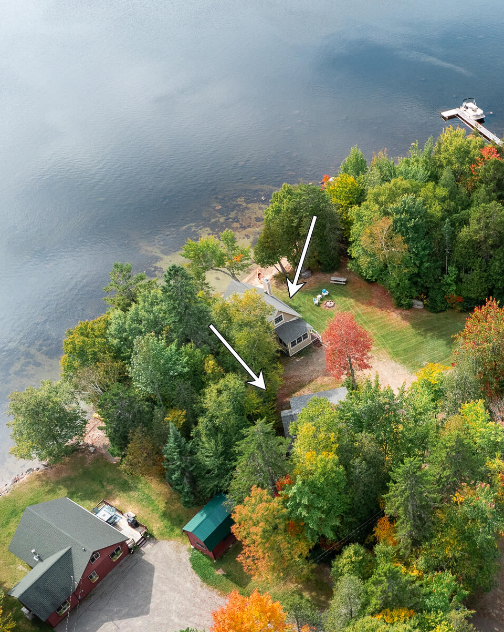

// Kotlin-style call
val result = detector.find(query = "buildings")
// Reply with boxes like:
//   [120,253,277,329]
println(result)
[183,498,243,559]
[5,495,148,626]
[224,274,320,355]
[282,386,357,448]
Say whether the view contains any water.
Yes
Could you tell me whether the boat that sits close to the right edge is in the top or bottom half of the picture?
top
